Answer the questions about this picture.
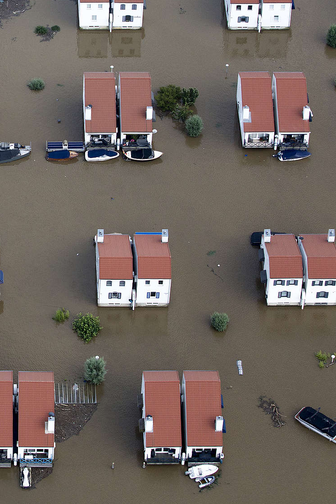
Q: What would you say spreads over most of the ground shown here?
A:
water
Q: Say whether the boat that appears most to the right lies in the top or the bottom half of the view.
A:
bottom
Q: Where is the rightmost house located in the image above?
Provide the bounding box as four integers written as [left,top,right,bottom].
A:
[298,228,336,306]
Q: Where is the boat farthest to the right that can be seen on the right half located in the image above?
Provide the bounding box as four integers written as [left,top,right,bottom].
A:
[295,407,336,444]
